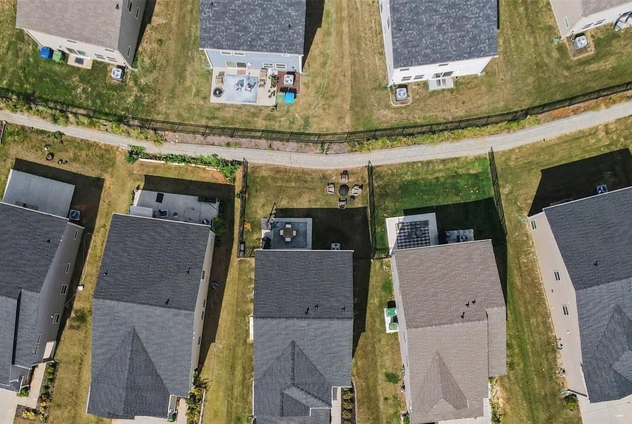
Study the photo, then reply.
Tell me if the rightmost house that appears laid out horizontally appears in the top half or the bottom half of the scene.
top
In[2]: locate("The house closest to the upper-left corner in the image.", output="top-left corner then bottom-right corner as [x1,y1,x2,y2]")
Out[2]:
[17,0,145,69]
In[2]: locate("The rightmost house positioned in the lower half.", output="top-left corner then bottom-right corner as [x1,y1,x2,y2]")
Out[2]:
[527,186,632,403]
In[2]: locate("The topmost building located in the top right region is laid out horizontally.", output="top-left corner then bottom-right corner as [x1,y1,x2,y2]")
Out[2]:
[544,0,632,39]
